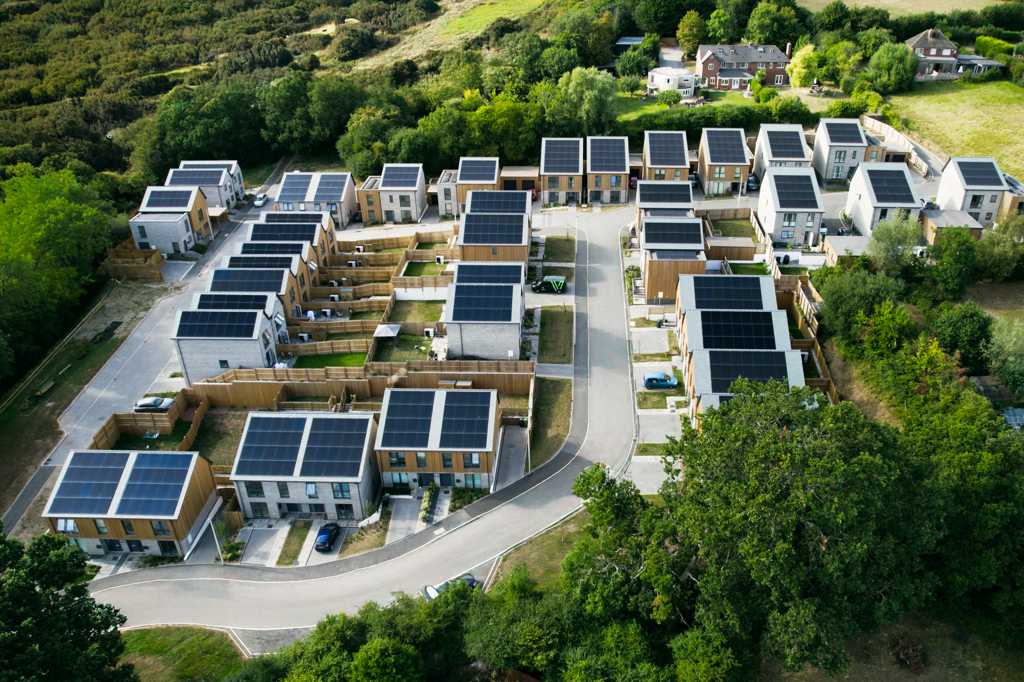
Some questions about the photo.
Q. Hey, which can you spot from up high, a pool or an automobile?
automobile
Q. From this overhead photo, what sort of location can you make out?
residential area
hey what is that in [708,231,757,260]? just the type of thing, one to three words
shed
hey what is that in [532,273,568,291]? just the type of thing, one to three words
vehicle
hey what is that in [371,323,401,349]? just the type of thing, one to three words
gazebo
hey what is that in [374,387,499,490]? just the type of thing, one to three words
house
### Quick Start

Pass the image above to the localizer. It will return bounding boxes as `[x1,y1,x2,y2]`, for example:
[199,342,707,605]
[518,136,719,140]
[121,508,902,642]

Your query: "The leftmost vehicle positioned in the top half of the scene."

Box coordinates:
[254,191,269,203]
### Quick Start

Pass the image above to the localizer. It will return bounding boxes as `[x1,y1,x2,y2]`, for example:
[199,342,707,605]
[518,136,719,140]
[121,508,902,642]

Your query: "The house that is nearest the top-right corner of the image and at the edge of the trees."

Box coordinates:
[897,25,1002,76]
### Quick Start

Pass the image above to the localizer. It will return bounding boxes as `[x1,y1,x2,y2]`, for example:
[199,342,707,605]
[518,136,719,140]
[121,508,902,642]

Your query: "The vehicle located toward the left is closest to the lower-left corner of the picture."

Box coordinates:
[131,393,175,412]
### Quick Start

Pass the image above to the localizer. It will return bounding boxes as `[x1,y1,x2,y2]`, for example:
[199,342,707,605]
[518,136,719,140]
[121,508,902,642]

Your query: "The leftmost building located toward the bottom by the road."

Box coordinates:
[41,448,218,554]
